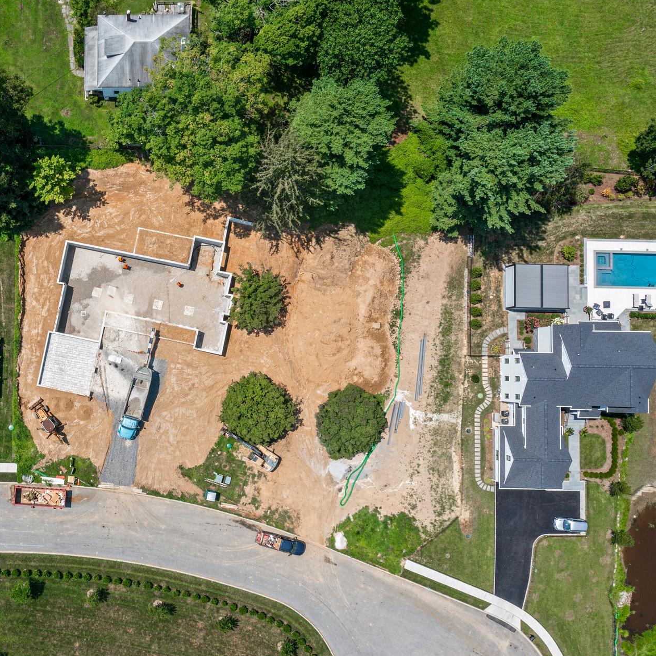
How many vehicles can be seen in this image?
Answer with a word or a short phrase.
5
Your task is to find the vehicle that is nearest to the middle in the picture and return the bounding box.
[225,428,283,473]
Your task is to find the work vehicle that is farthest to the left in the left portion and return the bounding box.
[26,393,62,444]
